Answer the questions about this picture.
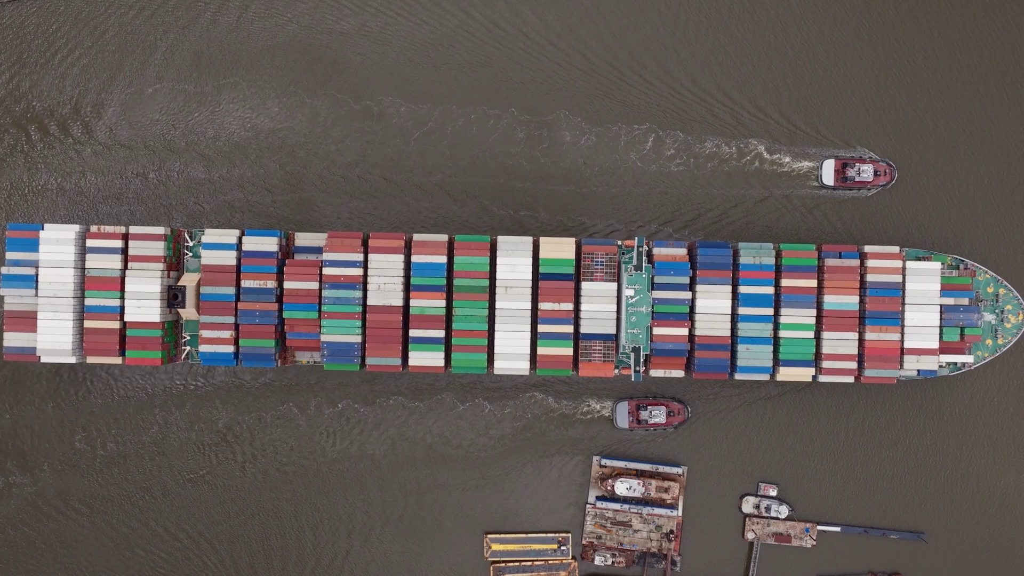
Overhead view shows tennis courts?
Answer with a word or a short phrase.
No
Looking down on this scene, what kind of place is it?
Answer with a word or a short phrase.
port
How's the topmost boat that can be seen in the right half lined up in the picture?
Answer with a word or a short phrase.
horizontally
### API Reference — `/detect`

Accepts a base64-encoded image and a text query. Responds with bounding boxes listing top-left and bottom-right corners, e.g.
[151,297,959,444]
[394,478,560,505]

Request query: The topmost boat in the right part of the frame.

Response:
[817,155,898,191]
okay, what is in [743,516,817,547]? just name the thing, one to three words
ship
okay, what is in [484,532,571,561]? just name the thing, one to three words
ship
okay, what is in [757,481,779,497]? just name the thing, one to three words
boat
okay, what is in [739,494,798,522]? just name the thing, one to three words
boat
